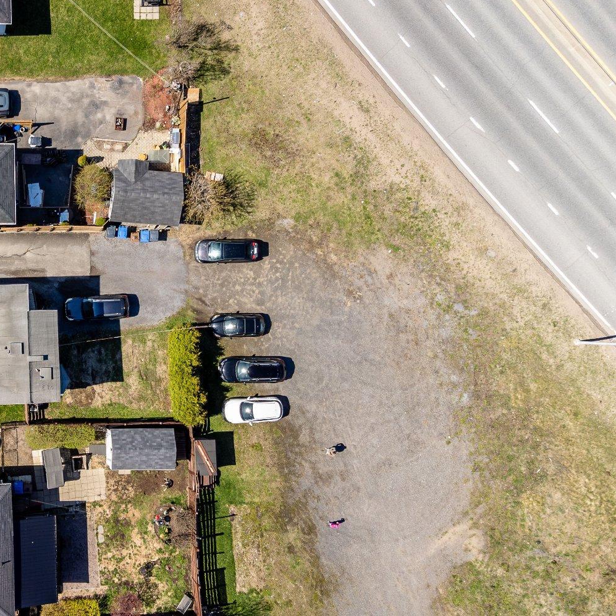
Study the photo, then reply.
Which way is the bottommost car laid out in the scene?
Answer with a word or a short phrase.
horizontally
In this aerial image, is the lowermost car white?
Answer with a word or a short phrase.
Yes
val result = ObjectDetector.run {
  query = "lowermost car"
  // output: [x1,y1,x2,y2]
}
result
[222,396,283,425]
